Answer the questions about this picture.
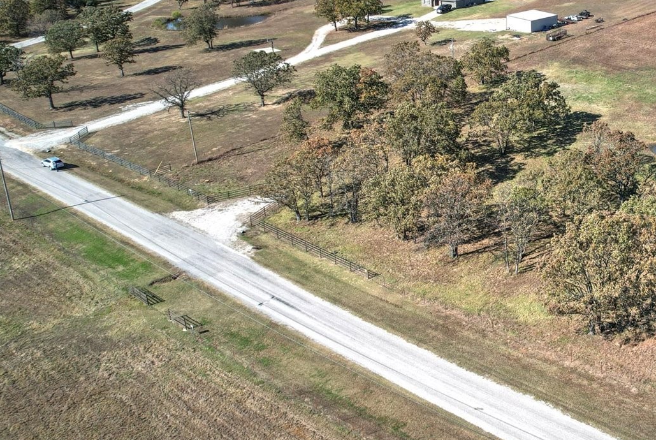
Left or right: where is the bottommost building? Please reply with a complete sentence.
The bottommost building appears in the right half of the scene.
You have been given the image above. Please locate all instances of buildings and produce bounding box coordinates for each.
[505,11,558,33]
[422,0,482,8]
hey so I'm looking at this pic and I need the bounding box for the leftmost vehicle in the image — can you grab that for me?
[41,154,65,169]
